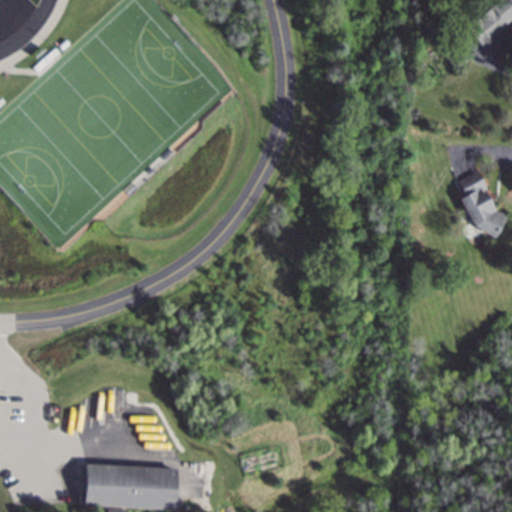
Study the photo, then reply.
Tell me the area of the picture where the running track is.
top left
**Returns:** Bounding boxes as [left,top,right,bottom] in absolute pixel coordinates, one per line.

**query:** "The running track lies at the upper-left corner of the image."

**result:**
[0,0,70,77]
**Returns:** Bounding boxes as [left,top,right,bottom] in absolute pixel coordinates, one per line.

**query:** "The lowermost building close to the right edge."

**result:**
[460,168,508,239]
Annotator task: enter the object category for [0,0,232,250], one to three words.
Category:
sports field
